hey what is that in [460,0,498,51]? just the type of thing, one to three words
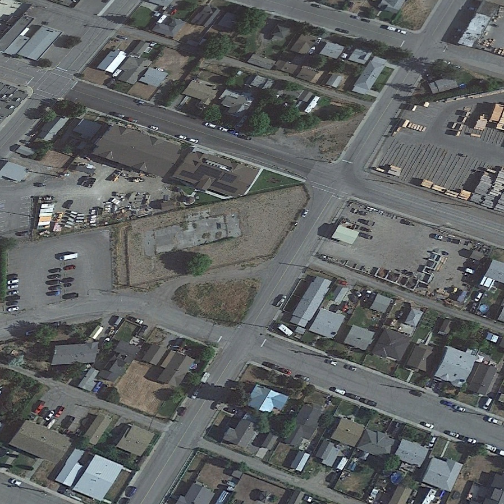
building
